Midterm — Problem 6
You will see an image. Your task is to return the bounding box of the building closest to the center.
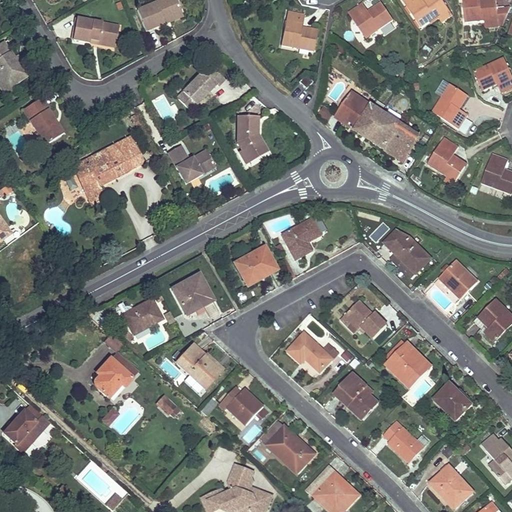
[233,243,280,287]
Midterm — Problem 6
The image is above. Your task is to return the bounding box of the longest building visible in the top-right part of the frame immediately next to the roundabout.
[332,90,421,162]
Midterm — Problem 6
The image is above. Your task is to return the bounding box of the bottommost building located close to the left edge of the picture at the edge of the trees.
[7,405,50,448]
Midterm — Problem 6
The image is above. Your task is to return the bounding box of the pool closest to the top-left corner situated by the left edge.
[6,126,23,152]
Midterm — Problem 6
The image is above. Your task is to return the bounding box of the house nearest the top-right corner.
[462,0,512,28]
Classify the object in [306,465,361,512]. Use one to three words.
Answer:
house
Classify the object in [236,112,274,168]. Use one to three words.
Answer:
house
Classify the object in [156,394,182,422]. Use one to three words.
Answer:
shed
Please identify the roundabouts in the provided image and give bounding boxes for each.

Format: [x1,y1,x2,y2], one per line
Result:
[308,148,360,199]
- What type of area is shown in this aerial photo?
residential area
